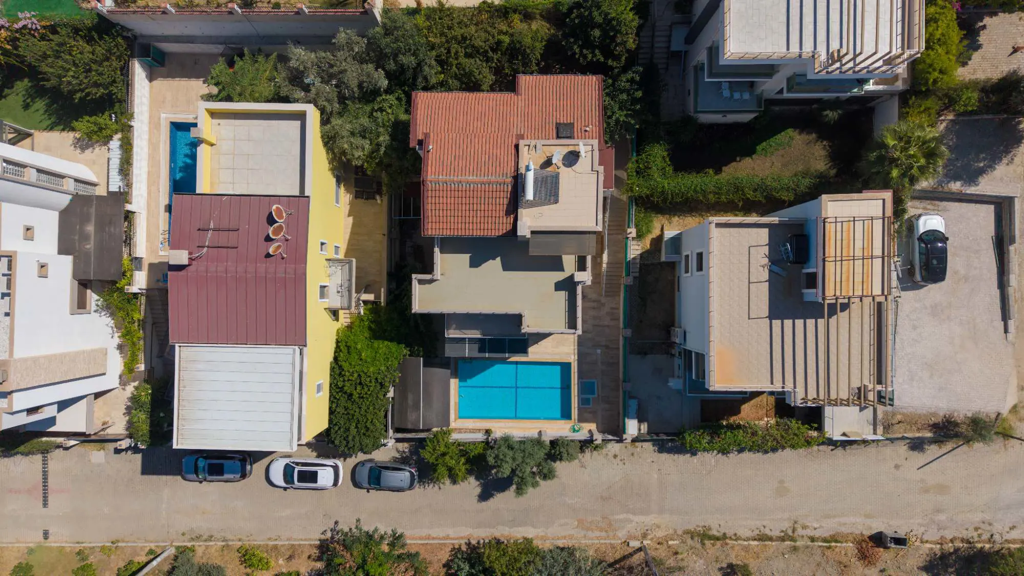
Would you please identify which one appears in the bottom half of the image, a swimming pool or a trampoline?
swimming pool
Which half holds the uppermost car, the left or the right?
right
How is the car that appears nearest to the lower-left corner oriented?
horizontally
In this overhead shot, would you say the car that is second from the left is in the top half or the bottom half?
bottom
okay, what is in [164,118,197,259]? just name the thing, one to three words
swimming pool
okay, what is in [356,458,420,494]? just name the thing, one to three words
car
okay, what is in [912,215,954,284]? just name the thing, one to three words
car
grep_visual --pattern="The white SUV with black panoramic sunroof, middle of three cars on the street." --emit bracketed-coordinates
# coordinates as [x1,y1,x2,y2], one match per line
[270,455,346,493]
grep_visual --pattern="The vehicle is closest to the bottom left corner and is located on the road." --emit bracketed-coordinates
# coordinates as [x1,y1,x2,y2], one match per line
[183,450,256,487]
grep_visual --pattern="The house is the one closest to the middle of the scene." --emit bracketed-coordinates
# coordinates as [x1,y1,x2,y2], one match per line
[408,72,614,357]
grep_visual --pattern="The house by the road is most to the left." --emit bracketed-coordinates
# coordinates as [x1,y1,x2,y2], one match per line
[0,139,133,438]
